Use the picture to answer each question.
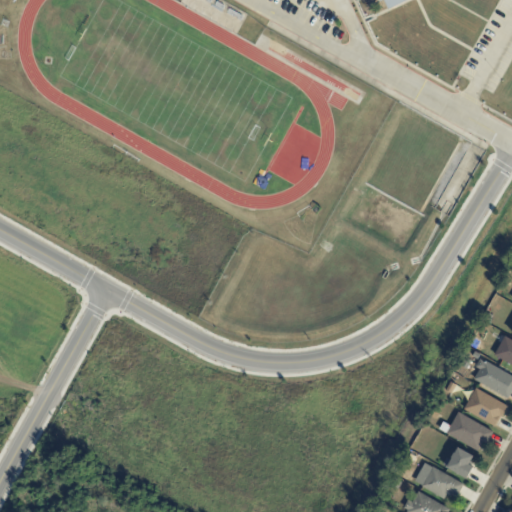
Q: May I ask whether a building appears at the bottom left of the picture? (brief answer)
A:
No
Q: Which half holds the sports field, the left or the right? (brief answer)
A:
left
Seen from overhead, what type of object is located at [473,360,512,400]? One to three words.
house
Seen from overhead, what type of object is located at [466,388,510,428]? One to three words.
house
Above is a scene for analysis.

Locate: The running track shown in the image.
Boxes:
[18,0,348,210]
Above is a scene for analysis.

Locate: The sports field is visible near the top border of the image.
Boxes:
[61,0,293,182]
